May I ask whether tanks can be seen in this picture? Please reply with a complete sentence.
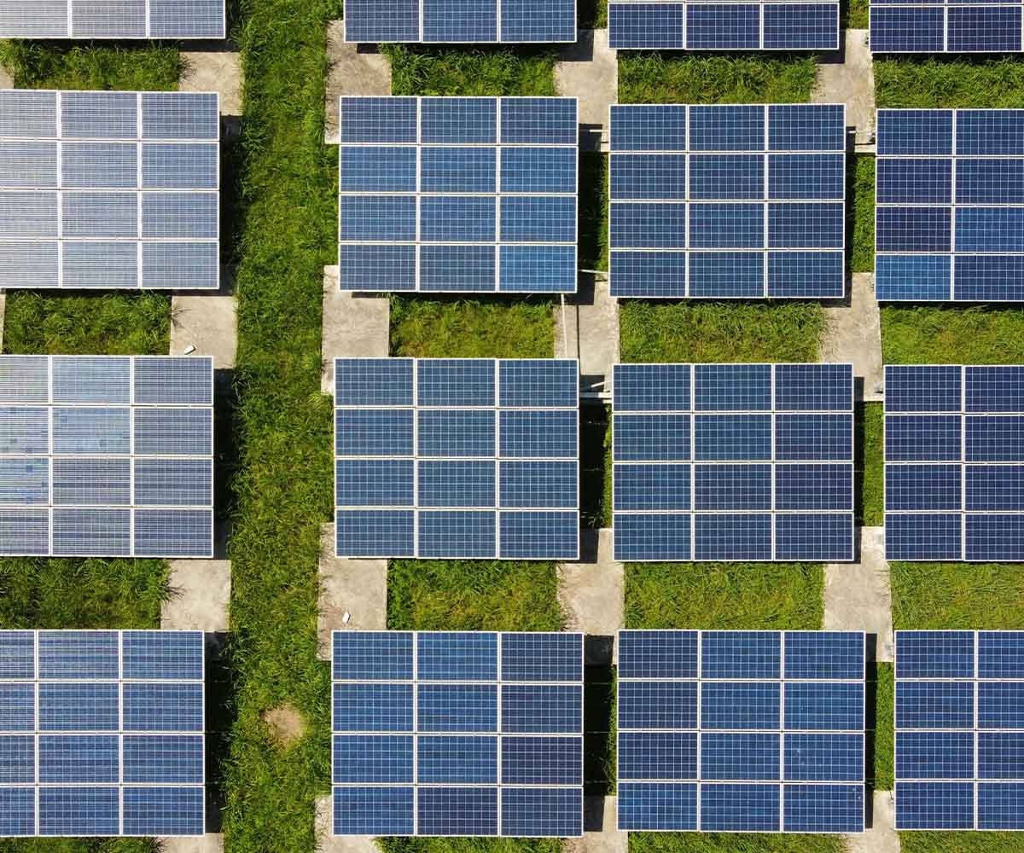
No, the frame has no tank in it.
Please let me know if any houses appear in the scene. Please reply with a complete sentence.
No, the scene contains no house.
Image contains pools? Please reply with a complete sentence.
No, I find no pool anywhere in the image.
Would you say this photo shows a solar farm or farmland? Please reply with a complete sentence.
What you see here is a solar farm.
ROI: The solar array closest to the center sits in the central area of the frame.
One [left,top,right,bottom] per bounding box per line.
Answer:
[335,359,578,559]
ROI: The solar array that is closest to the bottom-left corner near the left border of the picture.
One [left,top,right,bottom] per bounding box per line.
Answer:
[0,631,214,837]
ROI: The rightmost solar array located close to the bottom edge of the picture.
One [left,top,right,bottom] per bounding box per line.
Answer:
[885,630,1024,831]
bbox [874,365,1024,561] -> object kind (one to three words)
solar array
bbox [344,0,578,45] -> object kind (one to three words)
solar array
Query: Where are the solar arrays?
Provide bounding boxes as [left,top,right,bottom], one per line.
[608,104,845,298]
[344,0,578,45]
[608,0,839,50]
[0,631,214,837]
[867,109,1024,301]
[0,0,230,39]
[335,359,578,559]
[874,365,1024,561]
[0,91,228,289]
[0,357,222,557]
[865,0,1024,53]
[332,632,583,837]
[617,629,865,832]
[612,364,854,562]
[339,97,578,292]
[885,630,1024,831]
